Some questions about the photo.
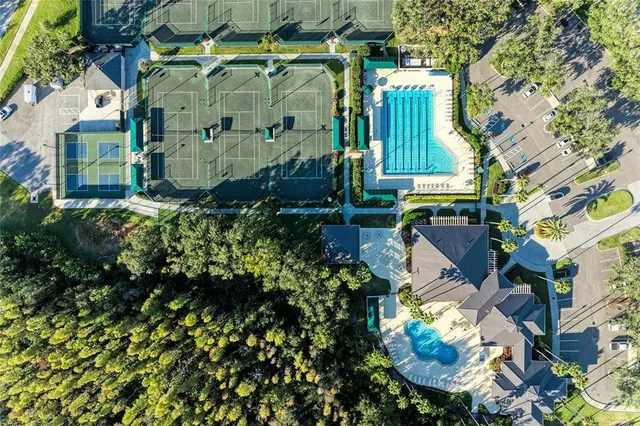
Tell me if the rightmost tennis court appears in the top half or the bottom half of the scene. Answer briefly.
top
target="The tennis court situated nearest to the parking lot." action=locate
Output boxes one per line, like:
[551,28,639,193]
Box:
[332,0,395,42]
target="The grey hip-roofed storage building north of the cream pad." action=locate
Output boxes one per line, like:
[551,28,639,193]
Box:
[85,52,129,92]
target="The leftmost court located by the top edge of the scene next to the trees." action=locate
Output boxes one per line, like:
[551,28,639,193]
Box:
[84,0,144,42]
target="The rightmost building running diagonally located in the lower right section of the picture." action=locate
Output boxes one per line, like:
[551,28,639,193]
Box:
[411,225,568,426]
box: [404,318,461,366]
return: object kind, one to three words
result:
swimming pool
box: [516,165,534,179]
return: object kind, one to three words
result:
vehicle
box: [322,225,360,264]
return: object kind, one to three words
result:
building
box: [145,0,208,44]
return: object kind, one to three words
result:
tennis court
